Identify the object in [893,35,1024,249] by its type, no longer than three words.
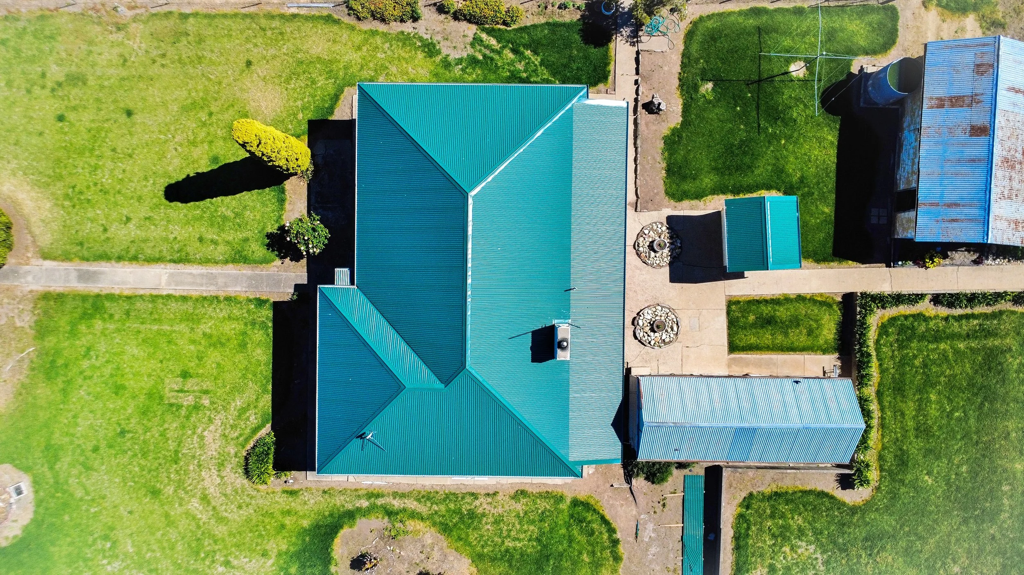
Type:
shed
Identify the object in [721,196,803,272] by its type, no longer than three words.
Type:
shed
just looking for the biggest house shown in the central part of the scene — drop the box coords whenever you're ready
[314,81,631,479]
